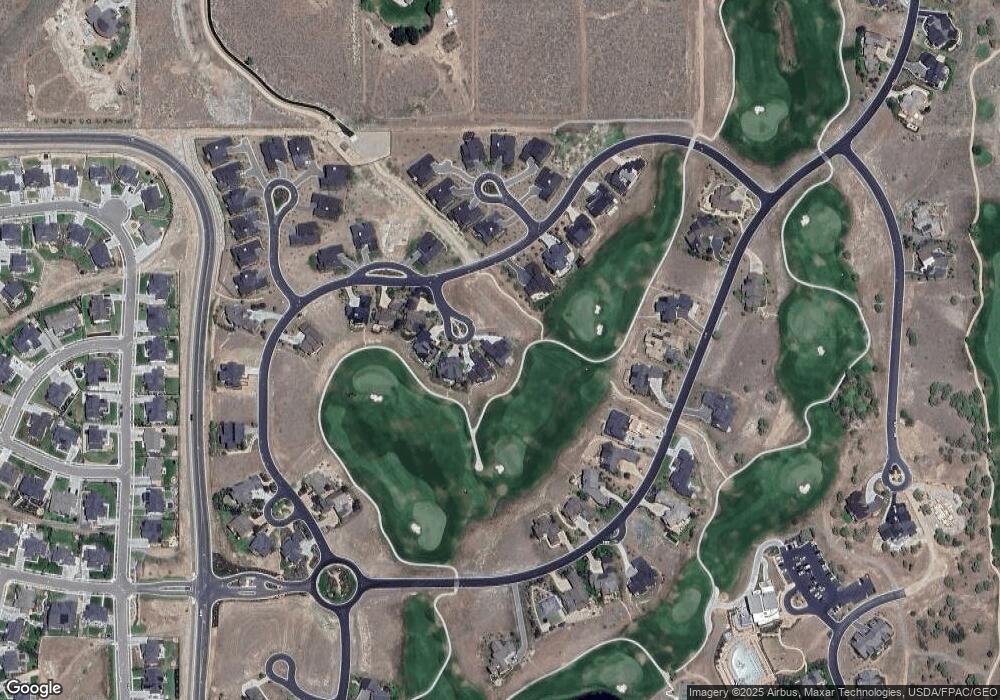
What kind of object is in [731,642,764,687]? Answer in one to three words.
swimming pool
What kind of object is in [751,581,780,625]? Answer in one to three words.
building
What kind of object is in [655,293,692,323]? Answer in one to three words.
house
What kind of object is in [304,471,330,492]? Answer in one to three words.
house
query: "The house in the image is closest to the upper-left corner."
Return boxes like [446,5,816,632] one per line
[85,5,122,37]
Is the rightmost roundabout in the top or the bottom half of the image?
bottom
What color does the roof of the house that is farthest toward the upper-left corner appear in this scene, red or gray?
gray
